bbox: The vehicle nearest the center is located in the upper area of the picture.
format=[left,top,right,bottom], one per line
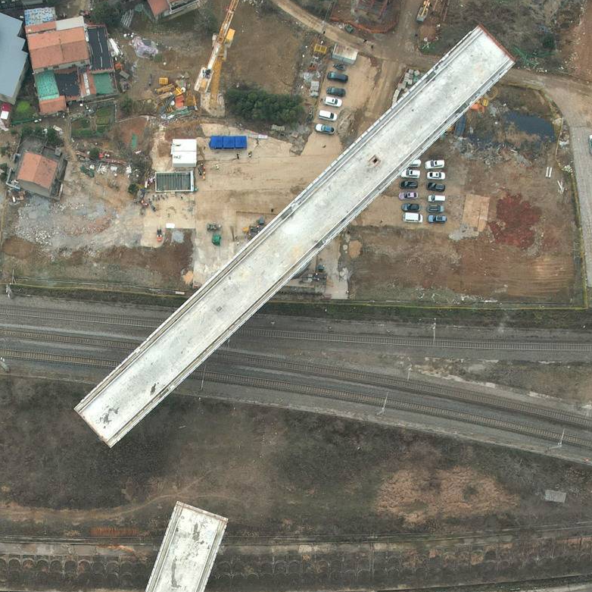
[245,215,266,234]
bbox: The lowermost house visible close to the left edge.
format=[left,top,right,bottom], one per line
[18,151,59,193]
